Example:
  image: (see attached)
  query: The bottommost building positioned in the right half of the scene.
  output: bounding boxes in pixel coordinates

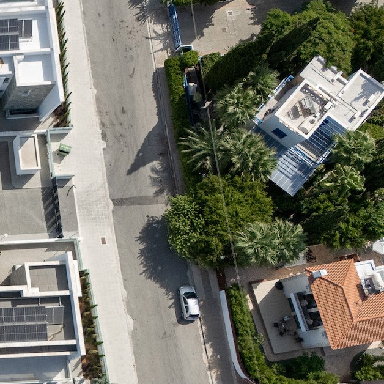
[267,258,384,350]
